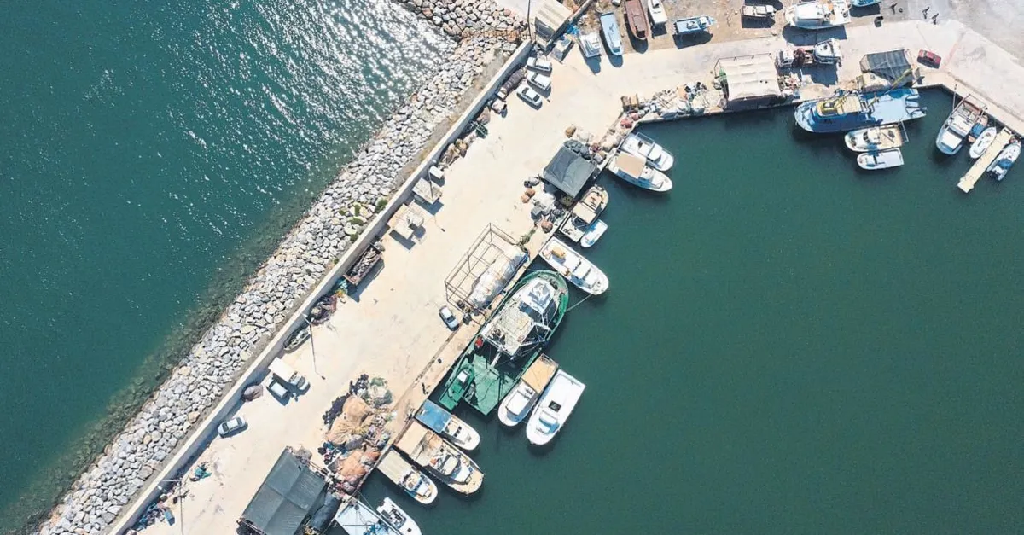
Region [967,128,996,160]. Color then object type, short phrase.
white boat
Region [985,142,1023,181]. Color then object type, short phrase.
white boat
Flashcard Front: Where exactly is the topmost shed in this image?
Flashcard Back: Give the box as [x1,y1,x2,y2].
[532,0,576,48]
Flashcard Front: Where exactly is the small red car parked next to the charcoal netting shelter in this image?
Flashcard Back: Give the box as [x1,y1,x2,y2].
[919,50,944,68]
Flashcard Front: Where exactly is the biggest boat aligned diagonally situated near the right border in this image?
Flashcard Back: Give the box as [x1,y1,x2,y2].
[938,90,997,156]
